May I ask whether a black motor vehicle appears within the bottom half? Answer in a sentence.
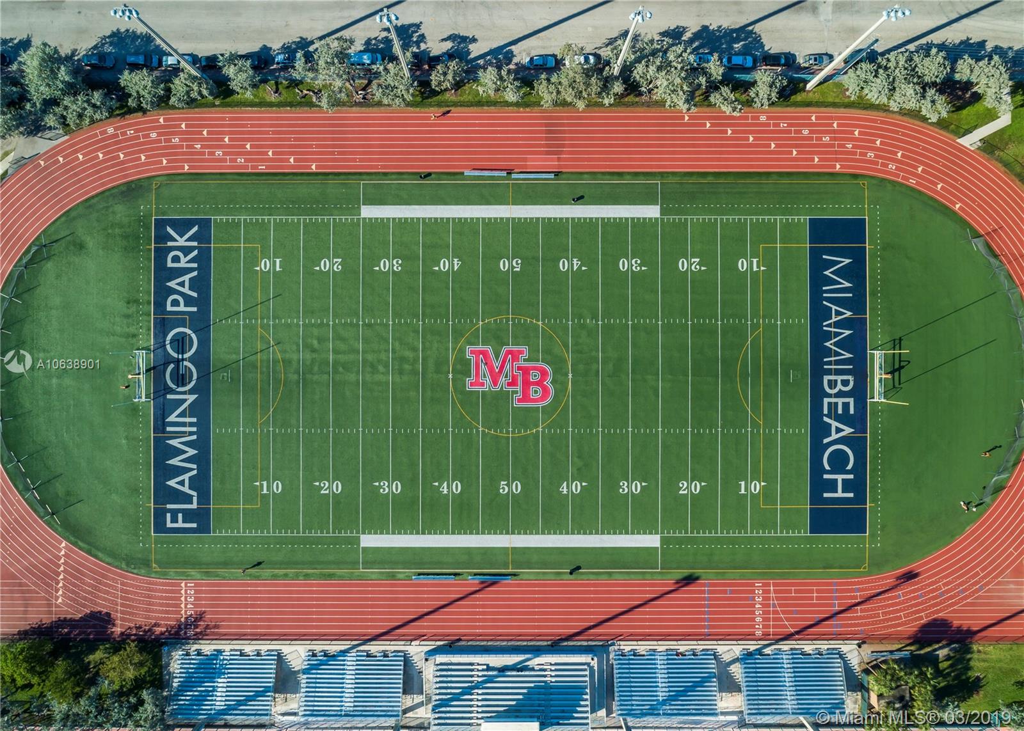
No, I can find no black motor vehicle within the bottom half.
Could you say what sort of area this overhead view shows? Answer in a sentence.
This image shows a sports ground.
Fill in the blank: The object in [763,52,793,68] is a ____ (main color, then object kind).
black car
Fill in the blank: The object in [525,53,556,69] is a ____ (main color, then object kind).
blue car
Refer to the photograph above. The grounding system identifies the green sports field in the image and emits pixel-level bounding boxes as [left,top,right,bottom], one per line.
[0,172,1024,580]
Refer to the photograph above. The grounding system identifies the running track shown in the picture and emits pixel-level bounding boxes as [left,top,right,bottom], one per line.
[0,111,1024,641]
